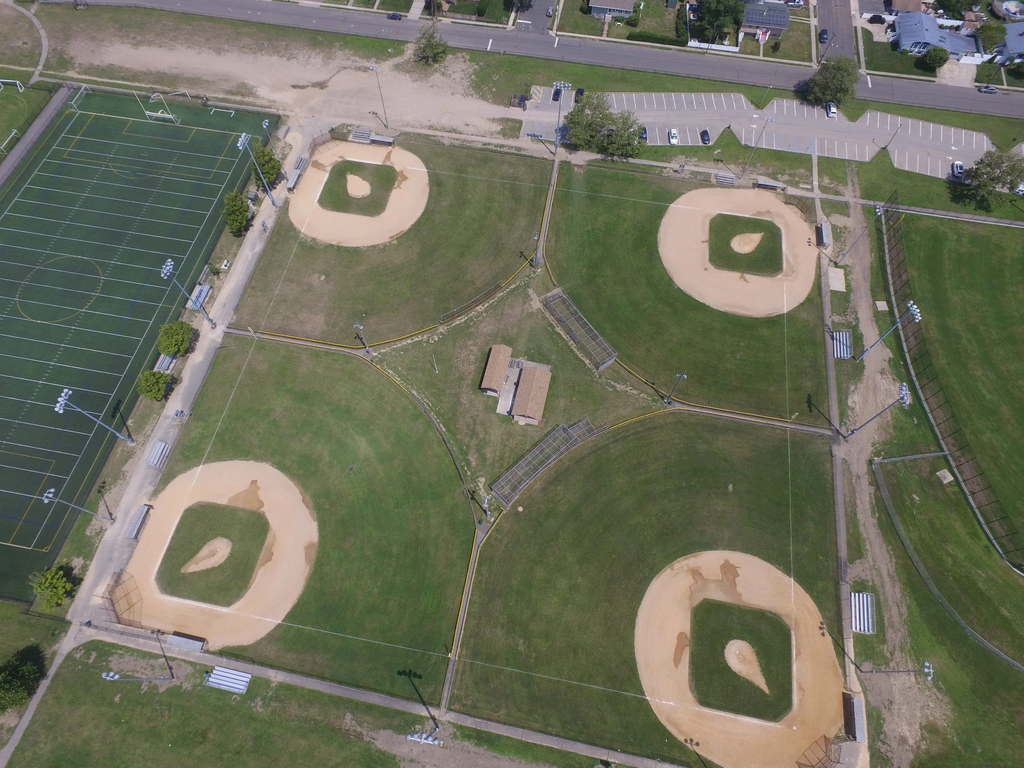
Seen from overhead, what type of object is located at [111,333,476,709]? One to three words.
baseball field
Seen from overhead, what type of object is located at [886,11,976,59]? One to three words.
house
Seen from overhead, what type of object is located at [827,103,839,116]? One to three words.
vehicle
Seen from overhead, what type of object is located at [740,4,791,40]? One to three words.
house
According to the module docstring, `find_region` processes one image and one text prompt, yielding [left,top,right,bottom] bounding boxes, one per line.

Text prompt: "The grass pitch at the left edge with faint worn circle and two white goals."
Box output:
[0,85,51,158]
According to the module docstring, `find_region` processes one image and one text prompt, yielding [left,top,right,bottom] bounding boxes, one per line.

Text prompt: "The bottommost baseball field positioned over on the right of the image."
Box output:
[448,409,851,768]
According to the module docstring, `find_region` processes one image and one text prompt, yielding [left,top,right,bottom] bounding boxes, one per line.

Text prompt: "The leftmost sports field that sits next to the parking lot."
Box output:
[0,93,279,602]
